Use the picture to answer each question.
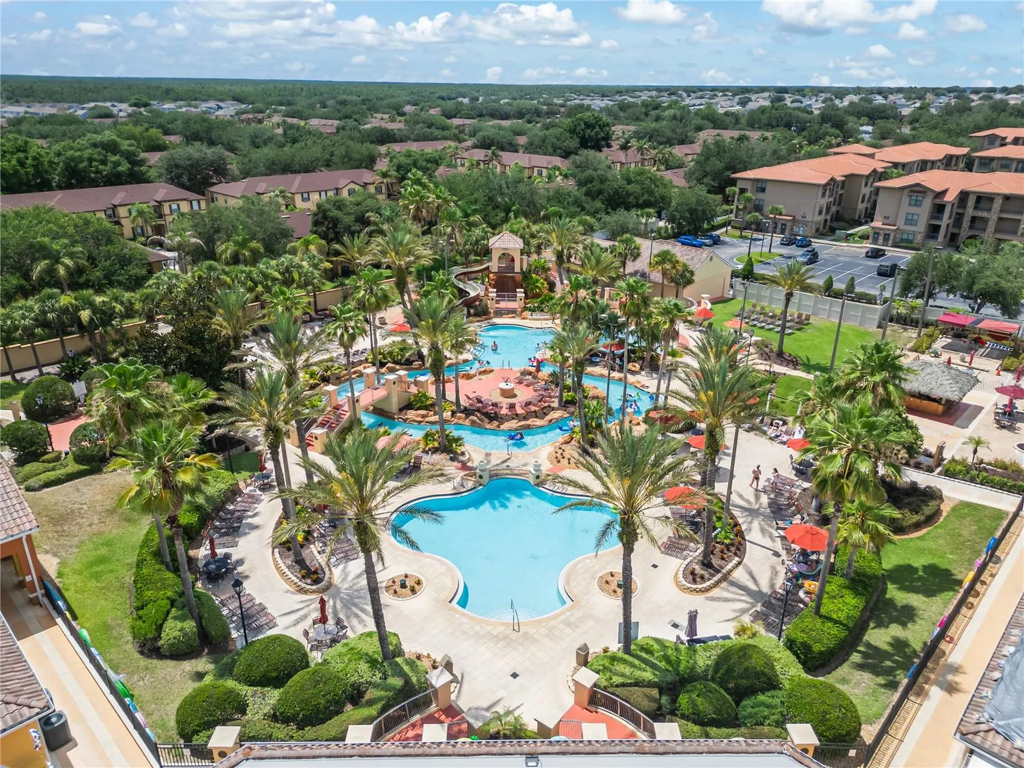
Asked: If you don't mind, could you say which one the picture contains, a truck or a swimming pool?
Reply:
swimming pool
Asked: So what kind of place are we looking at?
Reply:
residential area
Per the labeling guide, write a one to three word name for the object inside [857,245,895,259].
car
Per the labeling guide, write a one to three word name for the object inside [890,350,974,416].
shed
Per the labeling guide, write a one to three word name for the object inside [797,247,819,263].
car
